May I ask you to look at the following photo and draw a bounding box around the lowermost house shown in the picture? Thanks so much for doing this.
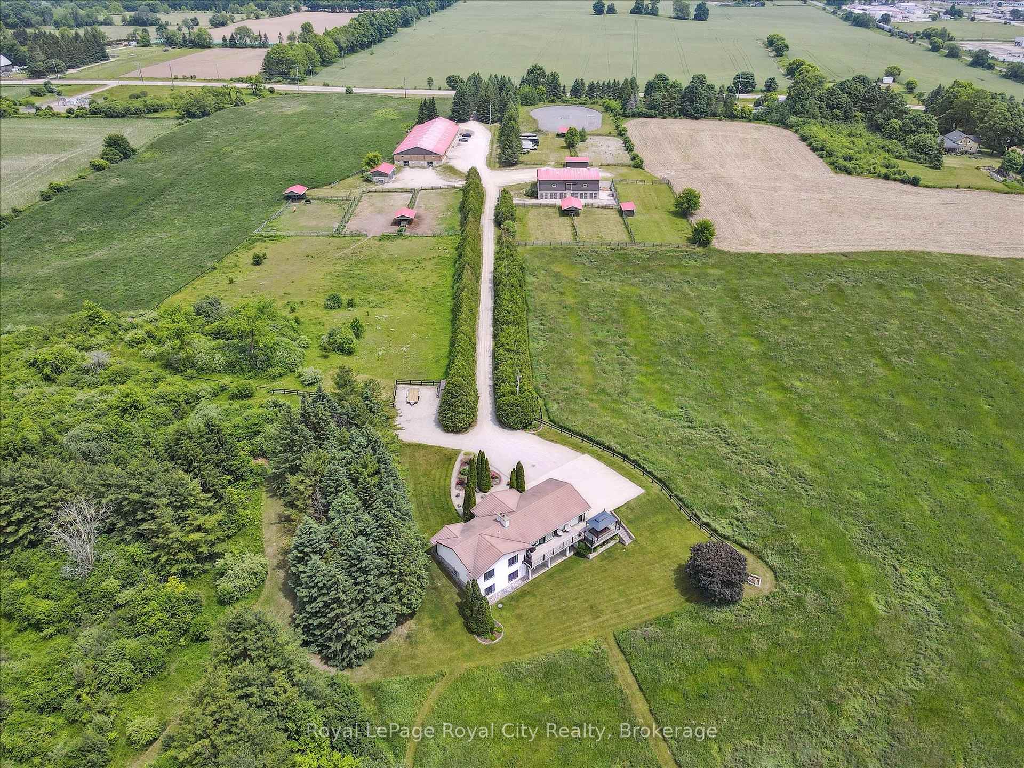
[429,478,634,602]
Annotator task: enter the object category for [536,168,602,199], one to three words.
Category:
building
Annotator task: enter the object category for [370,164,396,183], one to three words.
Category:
shed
